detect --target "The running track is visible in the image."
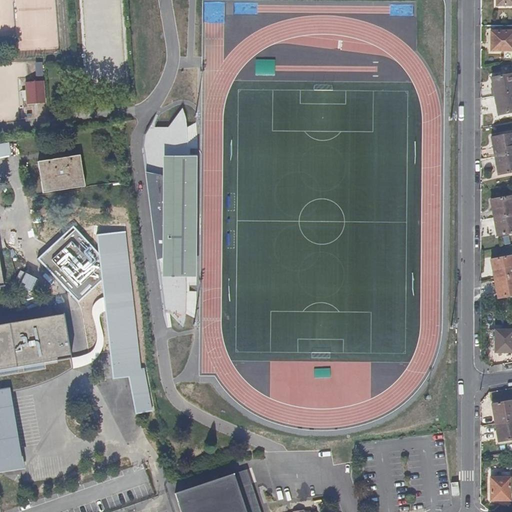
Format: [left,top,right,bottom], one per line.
[201,12,442,429]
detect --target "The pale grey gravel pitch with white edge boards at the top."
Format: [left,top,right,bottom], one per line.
[80,0,126,70]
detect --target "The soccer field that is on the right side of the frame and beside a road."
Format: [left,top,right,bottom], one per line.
[222,80,421,362]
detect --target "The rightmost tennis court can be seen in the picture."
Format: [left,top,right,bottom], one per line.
[16,0,58,50]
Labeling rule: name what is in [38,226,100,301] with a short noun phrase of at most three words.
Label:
building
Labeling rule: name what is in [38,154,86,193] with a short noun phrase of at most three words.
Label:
house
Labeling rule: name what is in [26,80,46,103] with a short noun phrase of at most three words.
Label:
shed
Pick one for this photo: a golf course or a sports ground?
sports ground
